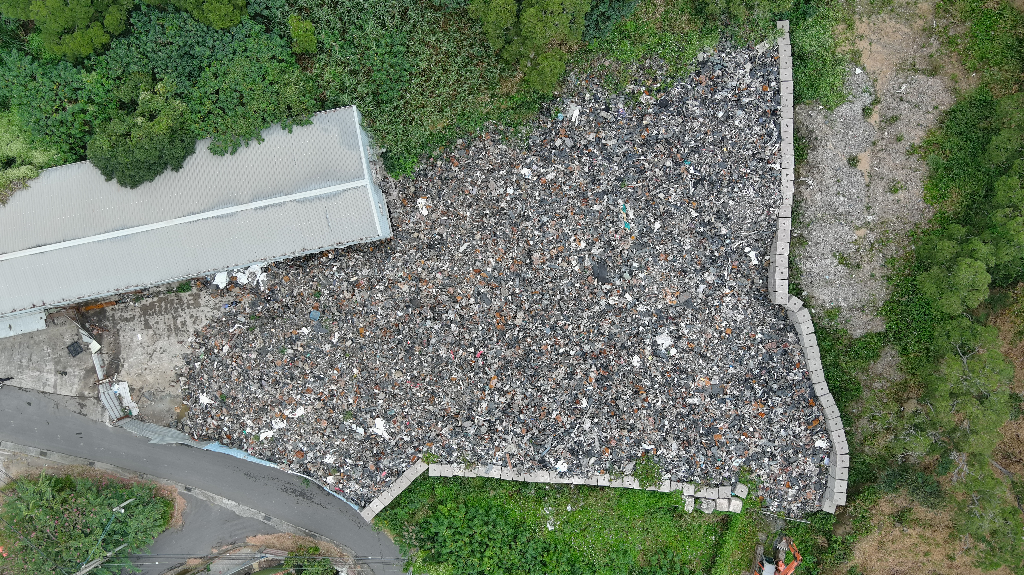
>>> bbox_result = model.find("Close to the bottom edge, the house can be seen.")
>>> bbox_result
[228,546,294,575]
